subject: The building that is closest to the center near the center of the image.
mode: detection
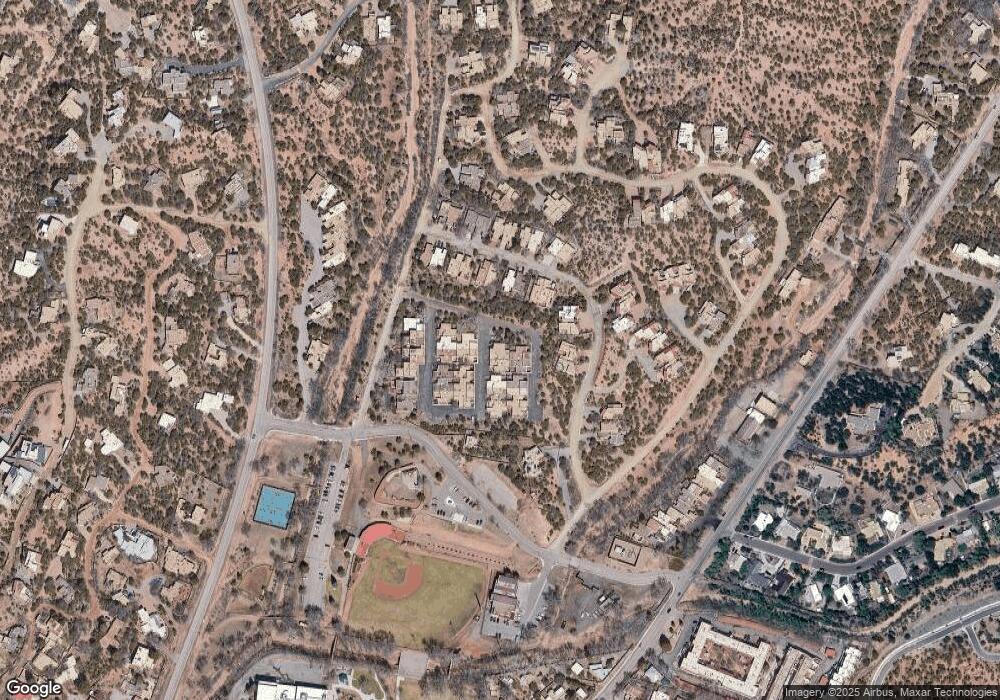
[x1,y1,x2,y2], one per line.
[488,343,530,373]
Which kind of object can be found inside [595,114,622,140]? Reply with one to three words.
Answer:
house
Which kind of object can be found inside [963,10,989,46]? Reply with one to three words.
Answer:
house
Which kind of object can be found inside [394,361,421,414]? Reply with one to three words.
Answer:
building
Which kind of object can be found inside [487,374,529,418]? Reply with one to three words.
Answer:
building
